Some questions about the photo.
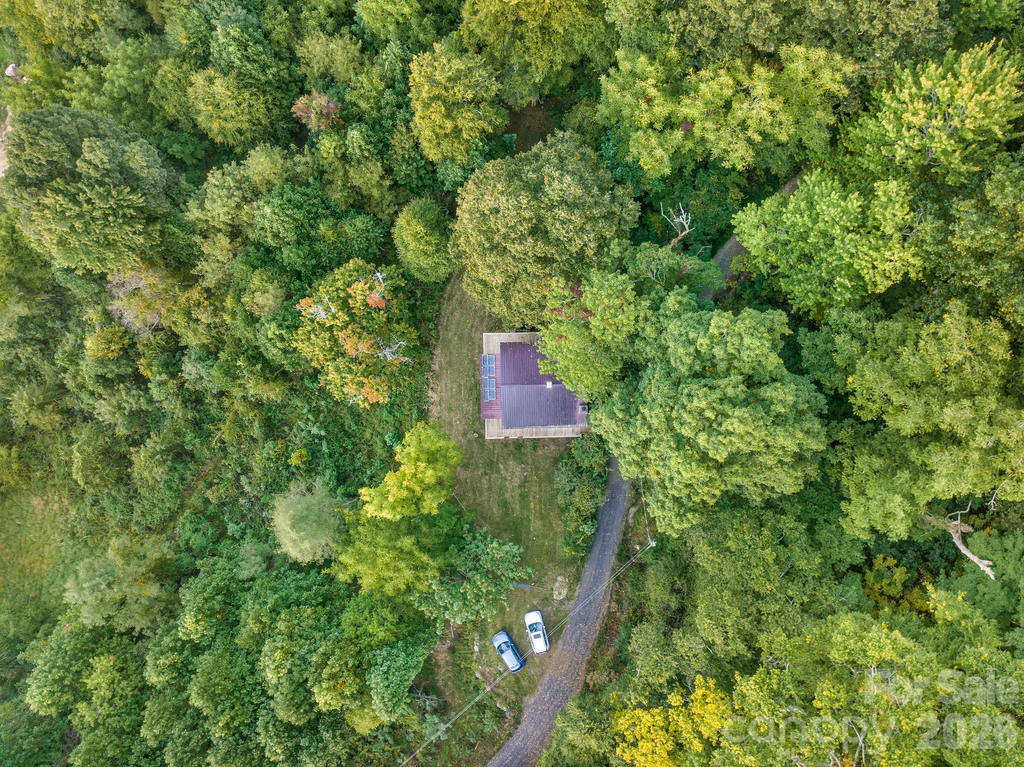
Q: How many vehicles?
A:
2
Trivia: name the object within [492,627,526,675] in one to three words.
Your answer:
car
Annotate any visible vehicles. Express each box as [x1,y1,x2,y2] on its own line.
[492,627,526,675]
[525,607,550,658]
